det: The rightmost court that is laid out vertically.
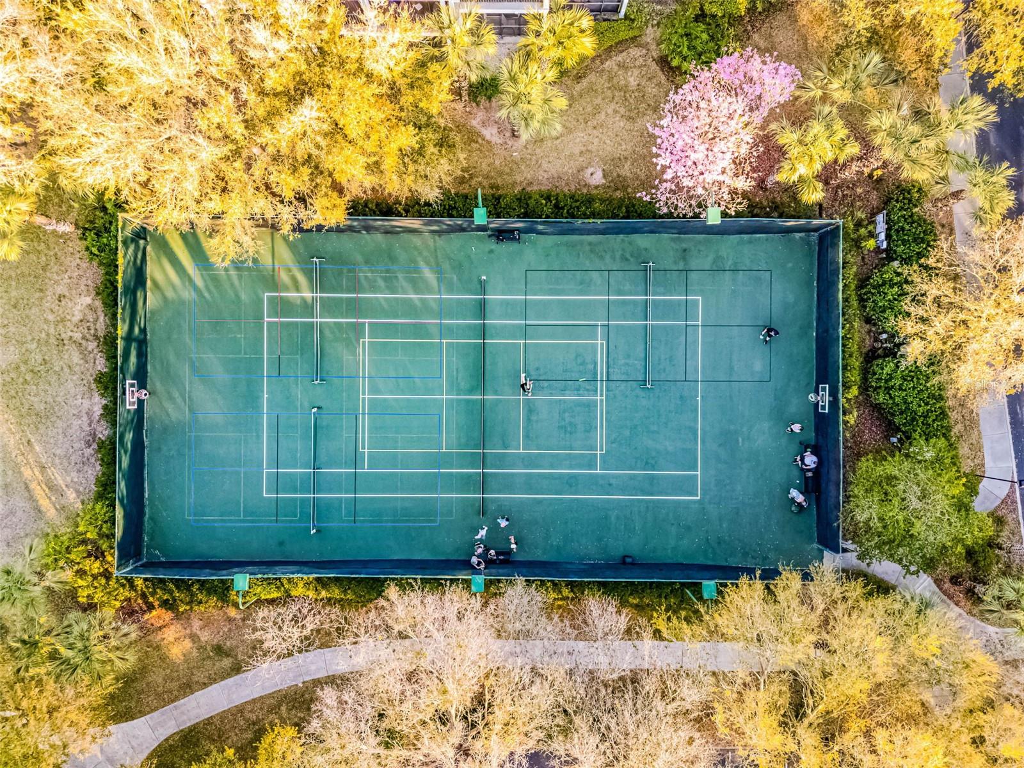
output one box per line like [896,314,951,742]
[343,274,456,519]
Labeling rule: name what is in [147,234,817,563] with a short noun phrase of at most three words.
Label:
tennis court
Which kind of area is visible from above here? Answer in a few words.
sports ground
